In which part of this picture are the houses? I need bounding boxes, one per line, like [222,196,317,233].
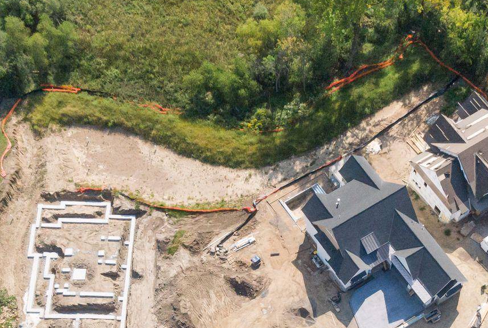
[283,155,468,304]
[407,90,488,225]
